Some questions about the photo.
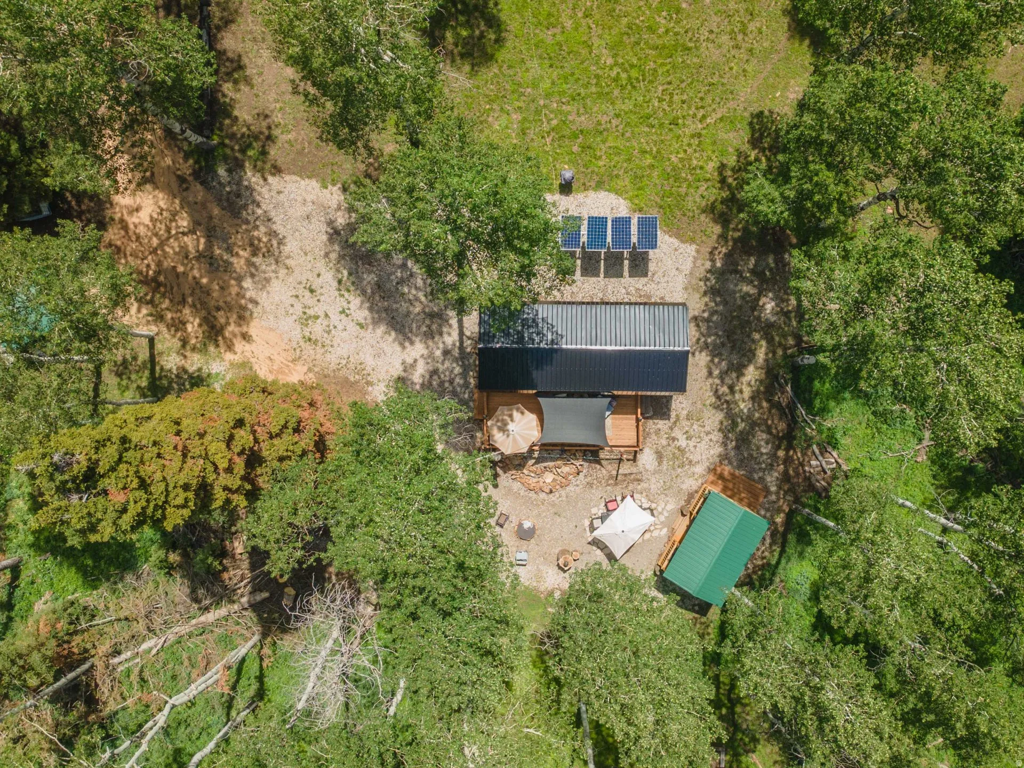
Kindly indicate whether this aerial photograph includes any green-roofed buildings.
Yes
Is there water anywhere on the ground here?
No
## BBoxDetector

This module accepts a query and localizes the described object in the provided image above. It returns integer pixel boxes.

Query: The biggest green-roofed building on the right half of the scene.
[663,490,770,607]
